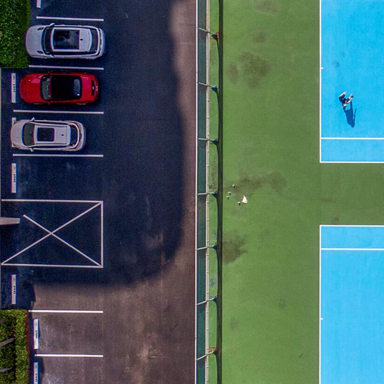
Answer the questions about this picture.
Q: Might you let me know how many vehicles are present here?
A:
3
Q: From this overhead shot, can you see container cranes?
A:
No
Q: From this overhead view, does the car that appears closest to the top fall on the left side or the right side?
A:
left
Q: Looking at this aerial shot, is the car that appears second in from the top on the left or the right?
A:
left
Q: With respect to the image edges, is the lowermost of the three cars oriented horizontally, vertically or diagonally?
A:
horizontally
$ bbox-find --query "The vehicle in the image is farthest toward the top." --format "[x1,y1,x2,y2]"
[26,20,106,61]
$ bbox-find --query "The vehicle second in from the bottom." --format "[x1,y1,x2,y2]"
[20,68,98,108]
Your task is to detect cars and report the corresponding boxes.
[26,20,106,61]
[11,116,86,155]
[20,68,98,108]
